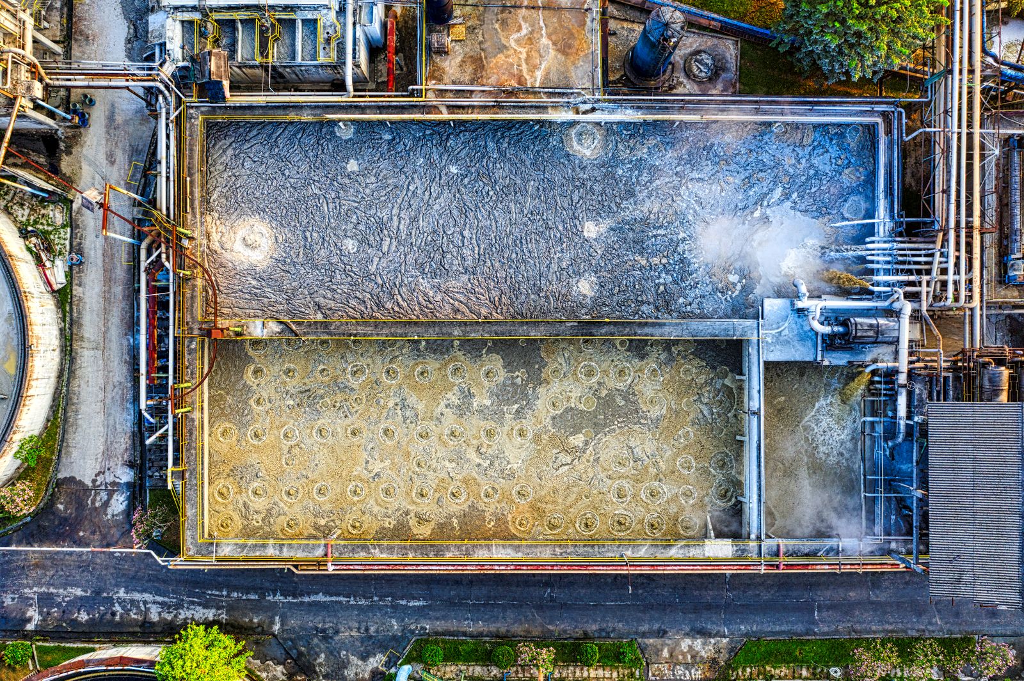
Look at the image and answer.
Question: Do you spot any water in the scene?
Yes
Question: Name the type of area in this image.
industrial area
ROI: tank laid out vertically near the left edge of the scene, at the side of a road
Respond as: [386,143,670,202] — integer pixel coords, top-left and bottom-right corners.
[0,210,61,487]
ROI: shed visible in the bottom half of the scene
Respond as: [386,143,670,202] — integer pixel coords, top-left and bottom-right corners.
[886,400,1024,612]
